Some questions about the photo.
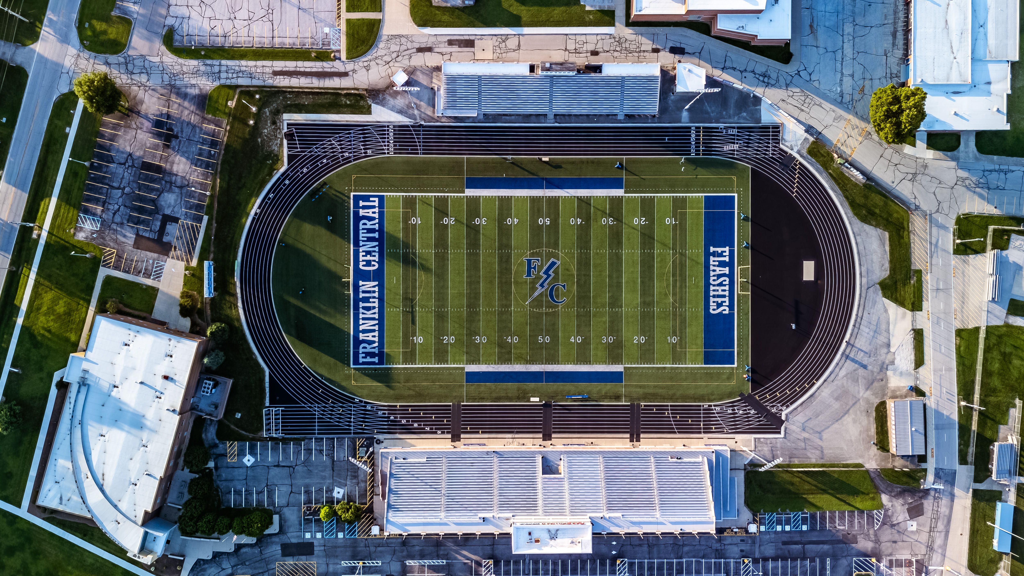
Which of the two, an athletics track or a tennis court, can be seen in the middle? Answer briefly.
athletics track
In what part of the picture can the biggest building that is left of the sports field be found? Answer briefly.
bottom left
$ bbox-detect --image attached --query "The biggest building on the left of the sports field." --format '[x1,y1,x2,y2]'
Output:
[37,315,209,565]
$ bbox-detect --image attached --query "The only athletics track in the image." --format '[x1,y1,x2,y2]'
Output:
[237,118,860,438]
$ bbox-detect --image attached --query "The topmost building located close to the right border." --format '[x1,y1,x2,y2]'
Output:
[895,0,1019,133]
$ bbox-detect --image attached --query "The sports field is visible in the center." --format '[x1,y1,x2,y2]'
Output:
[271,156,751,403]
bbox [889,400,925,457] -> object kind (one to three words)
building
